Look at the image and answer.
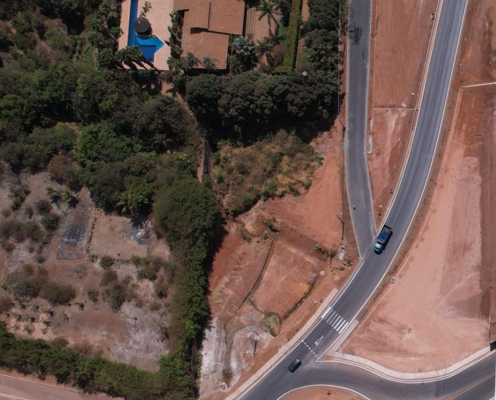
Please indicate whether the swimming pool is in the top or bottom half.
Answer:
top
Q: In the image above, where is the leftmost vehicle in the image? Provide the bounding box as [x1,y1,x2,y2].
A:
[287,358,301,372]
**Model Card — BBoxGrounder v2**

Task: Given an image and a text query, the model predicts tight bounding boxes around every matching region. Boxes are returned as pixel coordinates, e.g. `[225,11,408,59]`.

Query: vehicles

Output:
[287,358,301,372]
[374,224,392,253]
